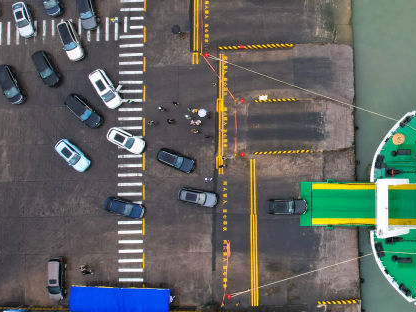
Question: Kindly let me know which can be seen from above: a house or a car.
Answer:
car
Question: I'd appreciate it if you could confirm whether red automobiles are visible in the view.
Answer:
No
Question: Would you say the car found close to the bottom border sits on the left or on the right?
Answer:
left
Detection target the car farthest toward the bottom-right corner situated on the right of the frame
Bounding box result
[267,198,307,216]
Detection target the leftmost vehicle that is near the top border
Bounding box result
[11,0,37,38]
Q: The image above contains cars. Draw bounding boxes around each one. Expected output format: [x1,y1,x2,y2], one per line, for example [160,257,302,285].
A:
[0,65,24,105]
[155,148,195,173]
[53,138,91,172]
[63,93,103,128]
[57,20,85,61]
[74,0,99,29]
[104,197,145,219]
[45,259,66,299]
[29,48,61,87]
[104,126,146,155]
[89,68,121,109]
[11,0,37,38]
[267,198,307,216]
[41,0,63,16]
[178,187,218,207]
